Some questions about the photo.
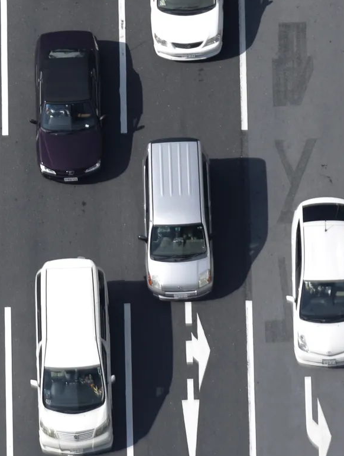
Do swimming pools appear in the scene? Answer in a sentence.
No, there appears to be no swimming pool in this shot.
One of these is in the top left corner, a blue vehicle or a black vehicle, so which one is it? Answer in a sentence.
Looking in the top left corner, you will find a black vehicle.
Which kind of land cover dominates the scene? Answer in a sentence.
Most of the picture is covered by paved ground.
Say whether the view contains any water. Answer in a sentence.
No, the scene doesn't show any water.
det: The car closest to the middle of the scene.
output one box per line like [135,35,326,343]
[137,134,219,299]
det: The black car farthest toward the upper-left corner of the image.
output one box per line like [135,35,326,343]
[29,32,109,183]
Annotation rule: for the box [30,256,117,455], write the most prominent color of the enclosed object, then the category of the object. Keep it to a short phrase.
white car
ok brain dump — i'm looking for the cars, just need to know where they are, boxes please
[144,0,227,60]
[30,256,117,455]
[29,32,109,183]
[285,198,344,365]
[137,134,219,299]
